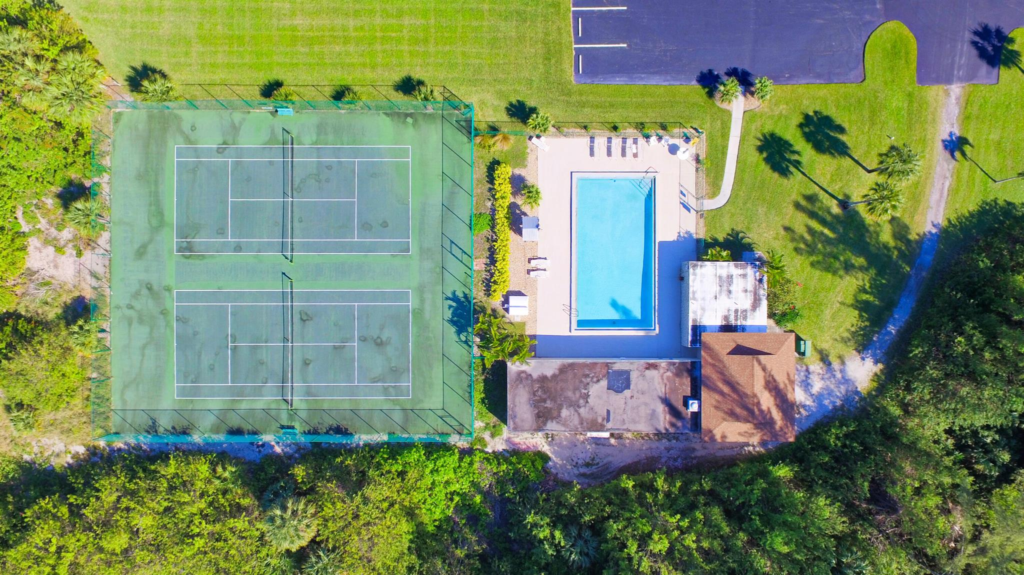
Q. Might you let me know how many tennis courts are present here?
two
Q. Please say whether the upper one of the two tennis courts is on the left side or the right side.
left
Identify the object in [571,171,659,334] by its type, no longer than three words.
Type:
swimming pool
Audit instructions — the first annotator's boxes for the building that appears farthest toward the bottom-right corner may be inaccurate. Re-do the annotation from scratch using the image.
[695,333,796,442]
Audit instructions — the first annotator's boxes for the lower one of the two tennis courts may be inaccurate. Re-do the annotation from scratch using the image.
[174,289,411,399]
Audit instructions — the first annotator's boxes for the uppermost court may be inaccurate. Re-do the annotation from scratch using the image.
[174,145,411,254]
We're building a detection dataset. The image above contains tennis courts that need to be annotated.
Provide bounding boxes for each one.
[174,145,411,254]
[174,289,411,399]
